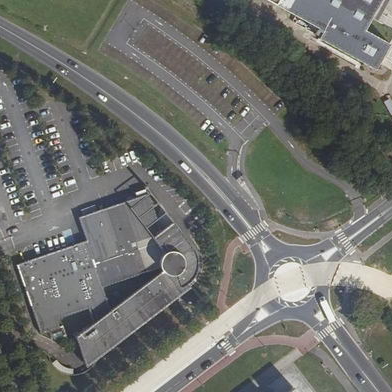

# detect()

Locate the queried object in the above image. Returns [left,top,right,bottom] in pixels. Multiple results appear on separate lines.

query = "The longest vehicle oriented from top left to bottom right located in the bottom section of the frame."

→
[318,296,337,322]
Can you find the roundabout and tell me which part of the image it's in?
bottom right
